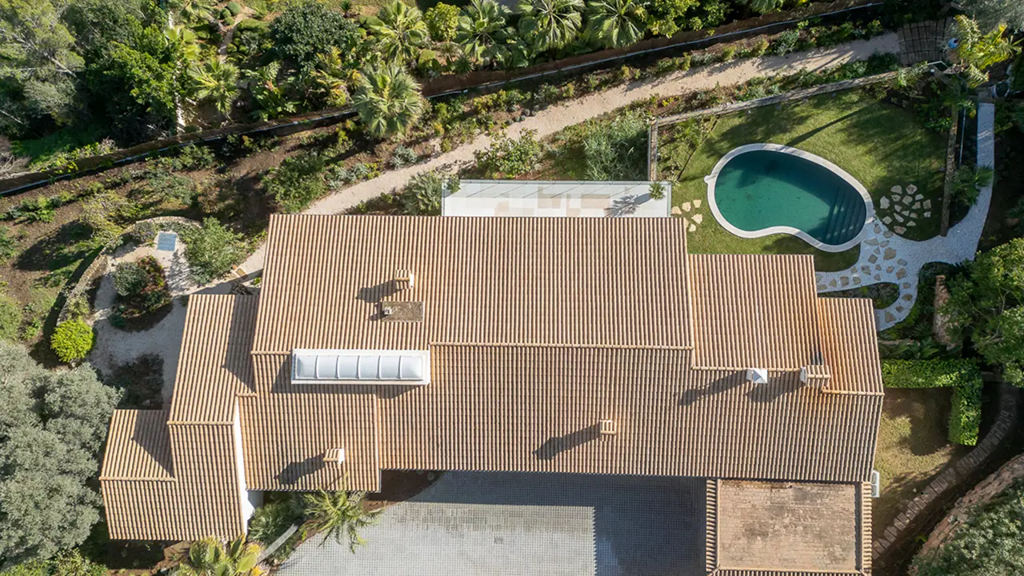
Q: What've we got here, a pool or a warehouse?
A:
pool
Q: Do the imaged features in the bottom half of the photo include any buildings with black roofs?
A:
No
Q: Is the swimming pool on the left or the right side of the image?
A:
right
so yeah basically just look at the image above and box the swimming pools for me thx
[704,143,874,251]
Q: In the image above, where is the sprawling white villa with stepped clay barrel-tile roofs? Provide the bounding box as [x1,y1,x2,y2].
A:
[97,212,886,542]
